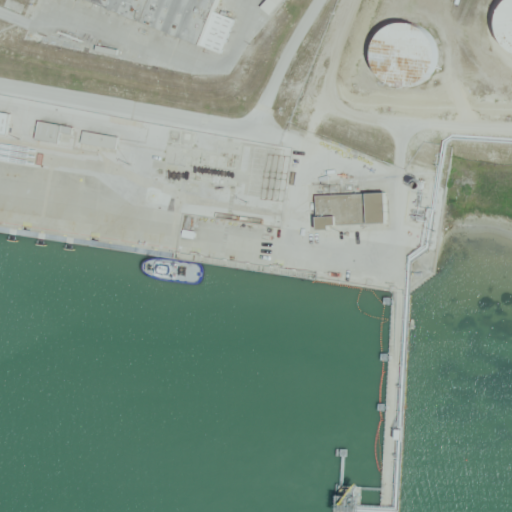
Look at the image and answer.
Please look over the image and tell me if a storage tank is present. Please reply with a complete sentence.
Yes, looking at the shot, I can spot a storage tank.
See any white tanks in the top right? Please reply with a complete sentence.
Yes, you'll find a white tank in the top right.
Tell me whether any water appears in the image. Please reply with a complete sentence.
Yes, water can be seen from above here.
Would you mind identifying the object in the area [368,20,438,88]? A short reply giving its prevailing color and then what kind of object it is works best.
white storage tank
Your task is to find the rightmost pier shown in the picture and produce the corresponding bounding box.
[380,291,412,512]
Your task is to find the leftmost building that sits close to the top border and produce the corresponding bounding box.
[196,0,237,54]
